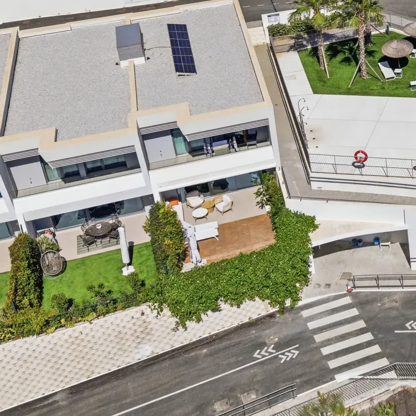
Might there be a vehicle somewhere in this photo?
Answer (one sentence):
No, no vehicle can be seen from above.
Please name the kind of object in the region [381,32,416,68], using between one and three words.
umbrella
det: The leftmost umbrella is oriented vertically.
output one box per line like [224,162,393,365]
[119,230,136,274]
